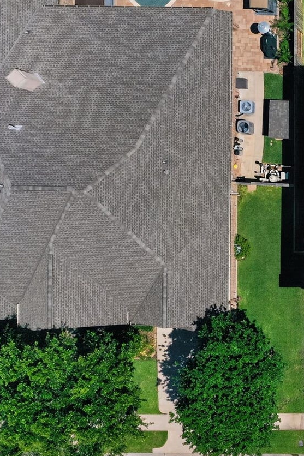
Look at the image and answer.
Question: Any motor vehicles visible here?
No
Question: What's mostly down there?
buildings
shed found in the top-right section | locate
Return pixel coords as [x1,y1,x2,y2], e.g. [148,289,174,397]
[268,99,294,144]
